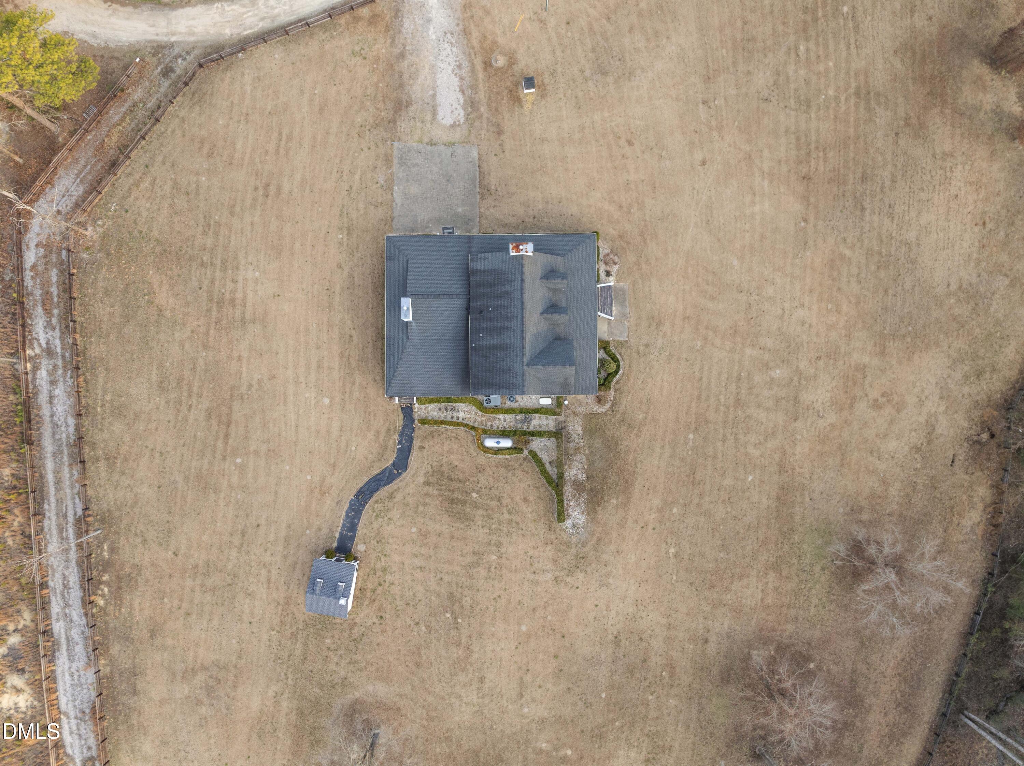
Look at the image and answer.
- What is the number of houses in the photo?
two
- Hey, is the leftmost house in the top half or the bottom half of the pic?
bottom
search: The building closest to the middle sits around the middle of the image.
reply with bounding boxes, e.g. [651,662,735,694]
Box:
[385,233,597,397]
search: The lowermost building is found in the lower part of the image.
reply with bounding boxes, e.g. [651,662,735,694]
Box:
[303,551,361,619]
